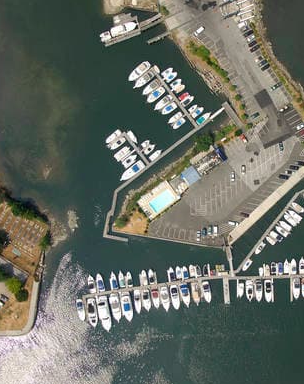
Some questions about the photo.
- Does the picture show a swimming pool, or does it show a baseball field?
swimming pool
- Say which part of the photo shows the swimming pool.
center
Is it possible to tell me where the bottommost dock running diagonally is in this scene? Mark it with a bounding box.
[231,188,304,277]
